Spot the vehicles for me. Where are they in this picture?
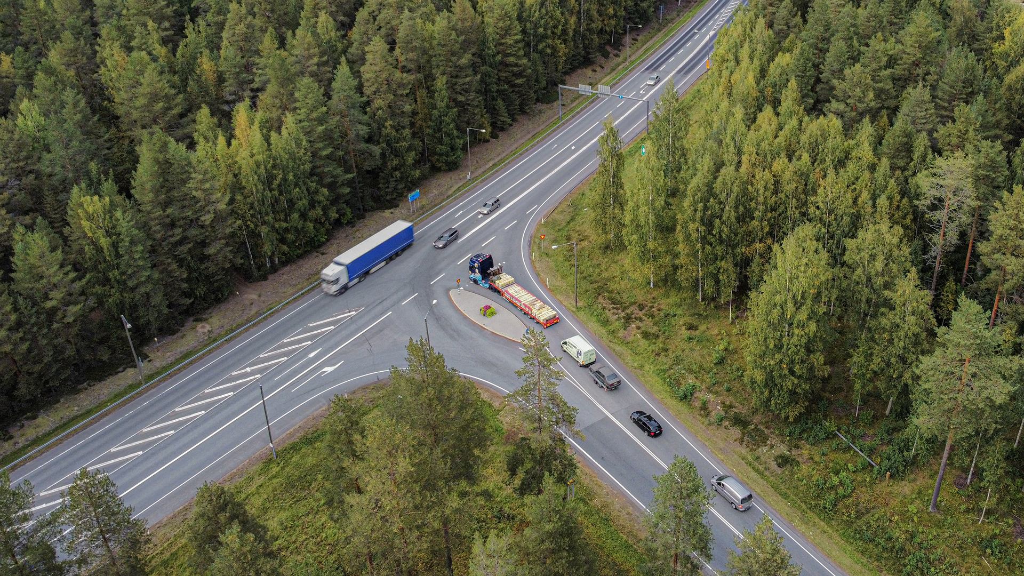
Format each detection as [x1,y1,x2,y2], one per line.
[710,473,756,511]
[323,220,415,296]
[646,73,661,84]
[477,196,502,215]
[468,251,561,328]
[432,227,460,248]
[628,408,667,439]
[561,334,597,368]
[589,360,622,389]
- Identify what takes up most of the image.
trees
